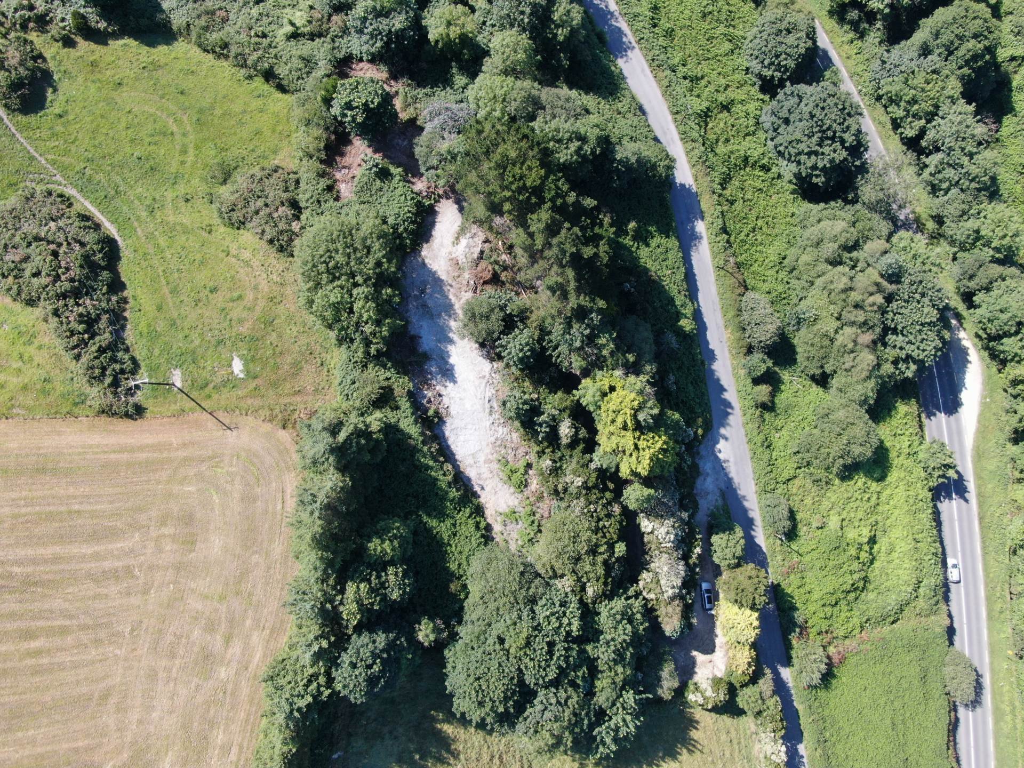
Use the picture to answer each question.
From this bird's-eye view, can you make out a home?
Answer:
No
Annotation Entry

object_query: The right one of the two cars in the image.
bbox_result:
[944,557,960,583]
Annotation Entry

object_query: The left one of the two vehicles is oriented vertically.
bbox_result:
[700,582,714,612]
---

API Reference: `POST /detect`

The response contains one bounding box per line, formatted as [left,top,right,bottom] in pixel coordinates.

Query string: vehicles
[700,582,714,612]
[944,557,960,583]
